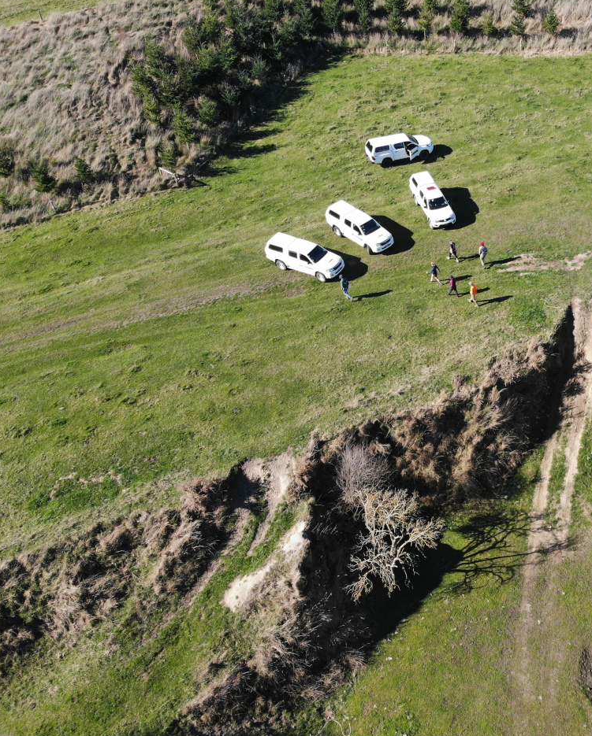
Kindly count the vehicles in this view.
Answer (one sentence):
In total, there are 4 vehicles in the scene.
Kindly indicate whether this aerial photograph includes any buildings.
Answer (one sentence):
No, there is no building in the image.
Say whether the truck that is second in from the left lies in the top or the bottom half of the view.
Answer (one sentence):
It is in the top half that the truck that is second in from the left appears.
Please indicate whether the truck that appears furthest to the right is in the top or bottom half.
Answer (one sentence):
Seen from above, the truck that appears furthest to the right lies in the top half of the view.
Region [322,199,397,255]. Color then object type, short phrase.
white truck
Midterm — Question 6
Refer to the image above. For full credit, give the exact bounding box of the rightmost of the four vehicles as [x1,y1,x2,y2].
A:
[408,172,458,228]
